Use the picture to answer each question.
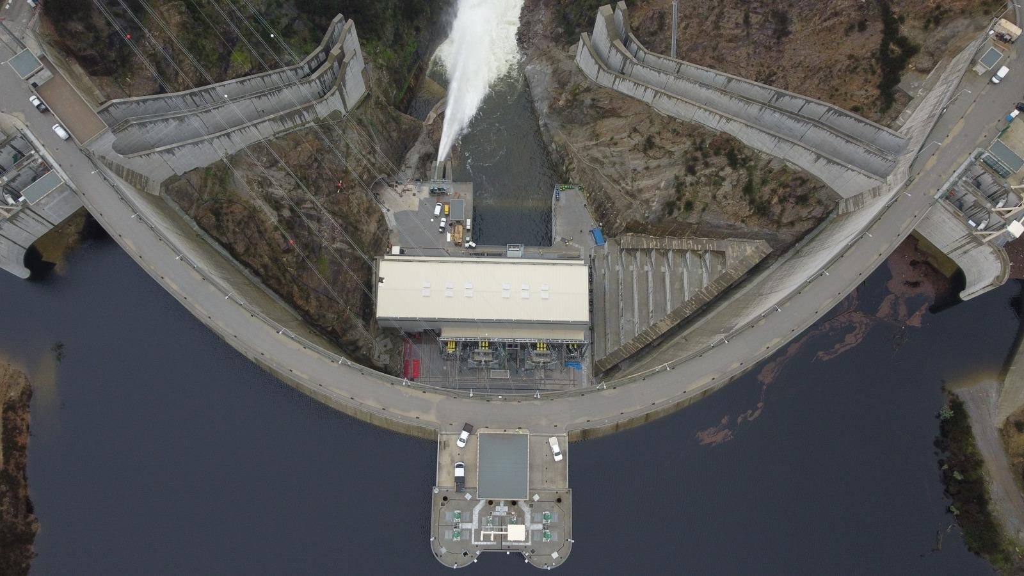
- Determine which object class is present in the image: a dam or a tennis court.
dam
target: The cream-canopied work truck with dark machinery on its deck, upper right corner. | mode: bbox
[993,18,1024,44]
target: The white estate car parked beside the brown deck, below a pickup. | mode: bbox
[48,121,70,140]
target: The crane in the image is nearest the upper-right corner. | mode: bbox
[967,184,1024,251]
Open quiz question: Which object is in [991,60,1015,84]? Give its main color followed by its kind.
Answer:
white vehicle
